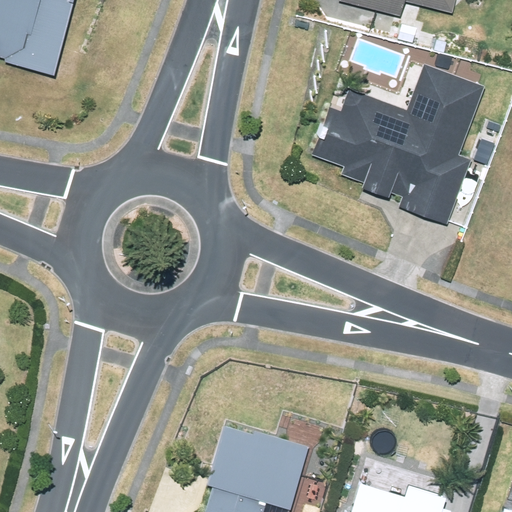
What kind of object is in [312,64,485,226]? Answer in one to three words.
house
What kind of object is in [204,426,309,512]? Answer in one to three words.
house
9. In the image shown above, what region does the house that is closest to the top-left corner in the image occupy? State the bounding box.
[0,0,76,76]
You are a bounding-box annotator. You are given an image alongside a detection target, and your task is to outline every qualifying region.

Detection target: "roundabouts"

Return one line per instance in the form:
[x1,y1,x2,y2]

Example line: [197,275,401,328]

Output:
[42,127,274,364]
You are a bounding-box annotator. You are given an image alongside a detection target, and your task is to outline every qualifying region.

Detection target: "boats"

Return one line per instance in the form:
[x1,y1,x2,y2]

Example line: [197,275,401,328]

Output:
[458,169,480,211]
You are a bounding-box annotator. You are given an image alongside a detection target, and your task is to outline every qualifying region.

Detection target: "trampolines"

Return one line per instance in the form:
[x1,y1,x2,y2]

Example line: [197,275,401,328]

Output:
[370,428,396,455]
